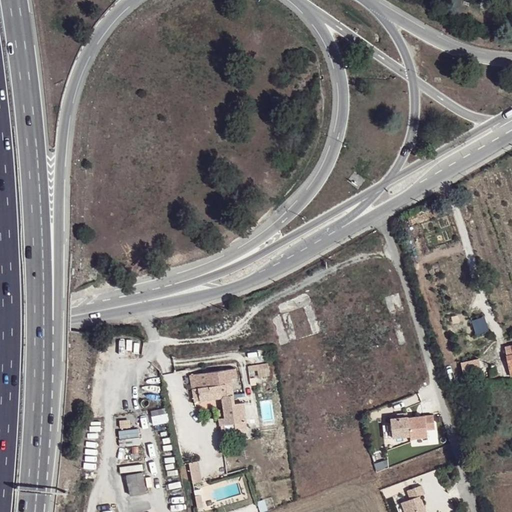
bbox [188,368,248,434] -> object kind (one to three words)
house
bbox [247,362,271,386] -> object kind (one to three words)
house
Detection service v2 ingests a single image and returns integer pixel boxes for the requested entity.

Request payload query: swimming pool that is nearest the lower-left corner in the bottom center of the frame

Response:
[211,482,242,502]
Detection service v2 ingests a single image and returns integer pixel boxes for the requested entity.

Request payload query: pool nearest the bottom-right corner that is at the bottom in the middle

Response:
[258,399,274,424]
